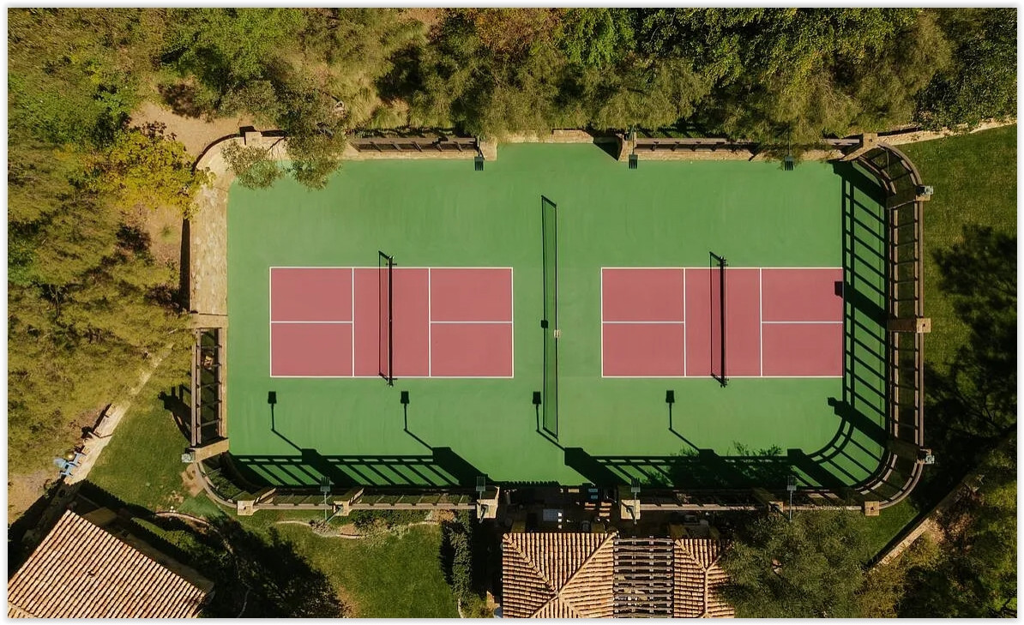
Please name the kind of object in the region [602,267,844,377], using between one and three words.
sports court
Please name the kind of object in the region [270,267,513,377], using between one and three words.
sports court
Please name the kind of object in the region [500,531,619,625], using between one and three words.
building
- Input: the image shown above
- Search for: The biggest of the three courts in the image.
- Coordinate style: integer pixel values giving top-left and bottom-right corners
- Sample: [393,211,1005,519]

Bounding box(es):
[227,143,887,490]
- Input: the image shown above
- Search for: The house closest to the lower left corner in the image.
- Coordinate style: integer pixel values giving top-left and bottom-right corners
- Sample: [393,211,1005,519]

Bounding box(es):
[0,506,225,625]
